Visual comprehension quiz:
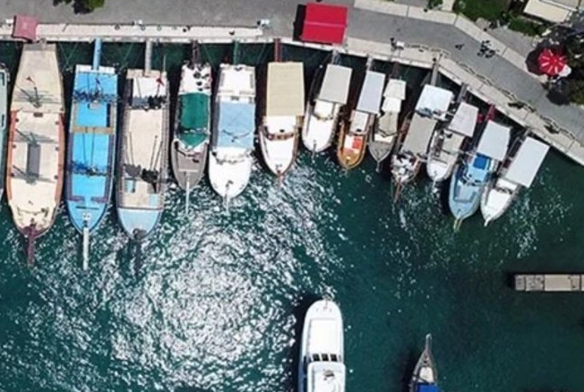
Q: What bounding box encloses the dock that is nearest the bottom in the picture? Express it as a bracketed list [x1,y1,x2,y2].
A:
[514,275,584,290]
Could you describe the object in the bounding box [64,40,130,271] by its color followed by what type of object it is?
blue boat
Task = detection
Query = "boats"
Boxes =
[482,126,550,227]
[306,49,356,159]
[171,40,214,214]
[116,40,181,275]
[298,300,349,392]
[64,40,130,271]
[205,42,265,214]
[341,53,387,176]
[371,60,406,172]
[394,61,454,189]
[453,104,512,231]
[411,333,455,392]
[430,82,479,193]
[6,42,77,268]
[258,39,305,187]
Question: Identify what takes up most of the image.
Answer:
water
